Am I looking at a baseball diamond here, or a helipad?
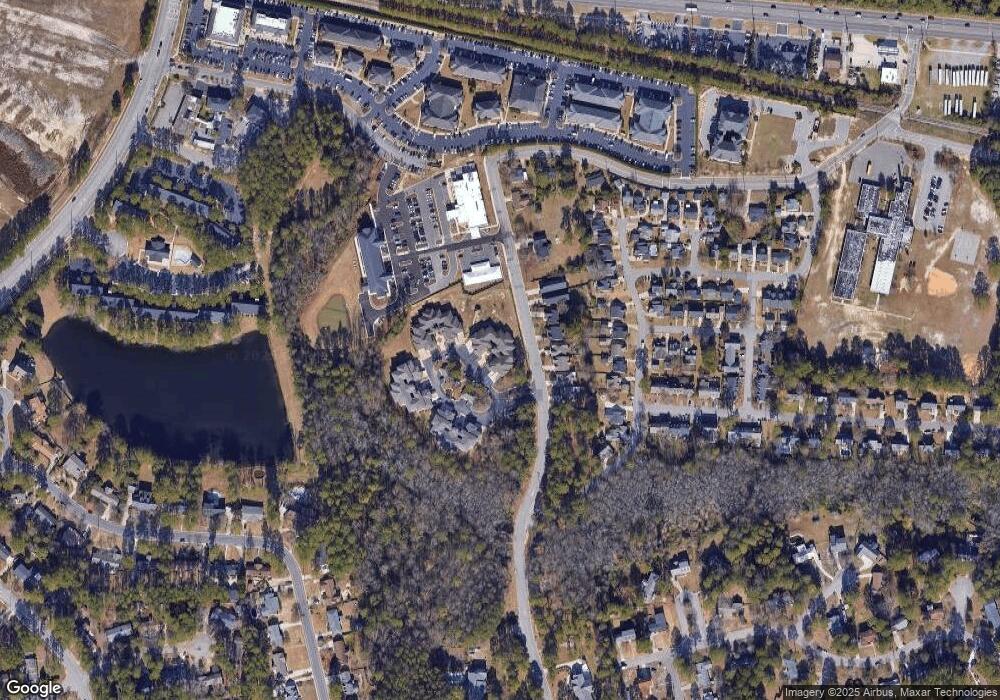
baseball diamond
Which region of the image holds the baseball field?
right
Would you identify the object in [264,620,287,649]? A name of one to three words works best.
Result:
house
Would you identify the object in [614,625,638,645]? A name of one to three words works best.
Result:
house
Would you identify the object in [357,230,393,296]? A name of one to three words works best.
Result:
building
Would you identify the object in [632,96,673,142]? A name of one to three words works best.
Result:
building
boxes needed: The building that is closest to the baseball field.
[833,181,915,300]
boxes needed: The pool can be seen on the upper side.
[166,241,203,272]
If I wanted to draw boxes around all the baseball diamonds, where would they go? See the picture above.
[926,266,957,297]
